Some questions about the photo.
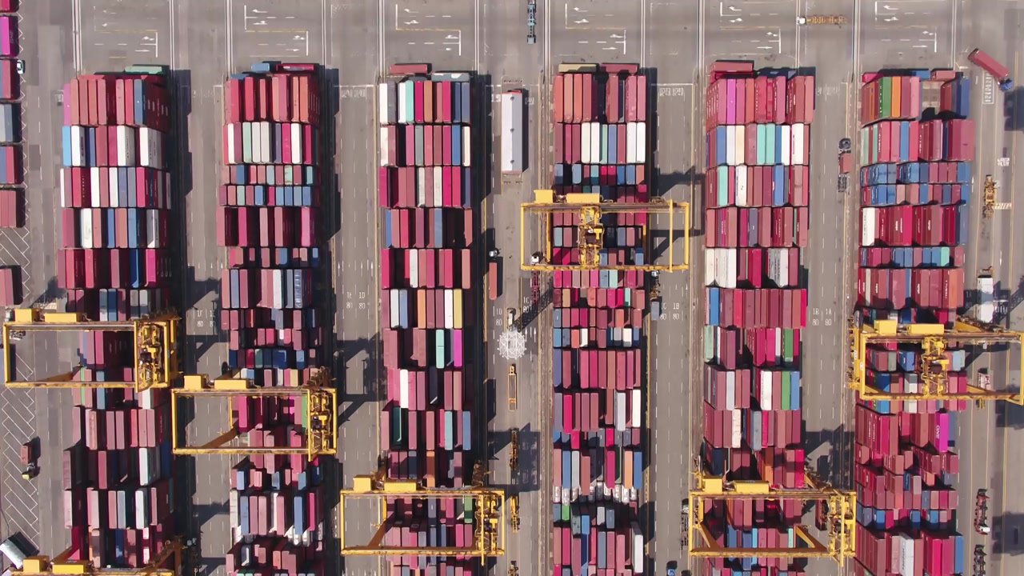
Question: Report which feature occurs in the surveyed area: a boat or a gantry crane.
gantry crane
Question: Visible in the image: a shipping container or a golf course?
shipping container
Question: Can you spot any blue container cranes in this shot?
No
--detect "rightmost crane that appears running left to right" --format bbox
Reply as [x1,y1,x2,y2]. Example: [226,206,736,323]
[848,310,1024,409]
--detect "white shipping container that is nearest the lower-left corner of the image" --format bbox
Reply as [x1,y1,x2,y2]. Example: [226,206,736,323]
[0,540,27,565]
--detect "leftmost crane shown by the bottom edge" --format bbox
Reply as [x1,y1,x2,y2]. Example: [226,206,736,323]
[12,534,193,576]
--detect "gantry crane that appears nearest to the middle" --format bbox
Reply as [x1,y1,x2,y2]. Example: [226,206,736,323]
[520,188,687,274]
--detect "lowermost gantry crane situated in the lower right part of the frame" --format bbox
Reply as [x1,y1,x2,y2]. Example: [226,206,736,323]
[685,454,853,572]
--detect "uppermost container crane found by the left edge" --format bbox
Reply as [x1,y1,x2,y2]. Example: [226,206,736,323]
[6,308,189,397]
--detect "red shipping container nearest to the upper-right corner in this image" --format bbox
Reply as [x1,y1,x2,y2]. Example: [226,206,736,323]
[967,49,1007,80]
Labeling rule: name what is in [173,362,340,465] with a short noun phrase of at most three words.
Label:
container crane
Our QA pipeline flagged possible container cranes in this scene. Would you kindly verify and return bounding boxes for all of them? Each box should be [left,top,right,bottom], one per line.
[340,453,504,570]
[12,534,193,576]
[848,310,1024,409]
[173,362,340,465]
[520,188,687,274]
[6,308,189,397]
[685,454,853,572]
